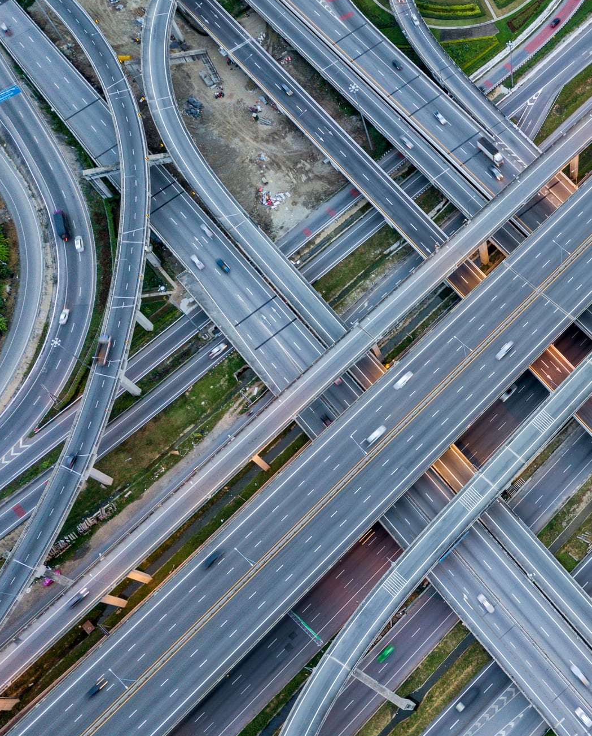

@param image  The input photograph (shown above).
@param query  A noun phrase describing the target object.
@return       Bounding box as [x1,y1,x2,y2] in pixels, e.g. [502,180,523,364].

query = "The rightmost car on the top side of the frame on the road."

[549,14,562,28]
